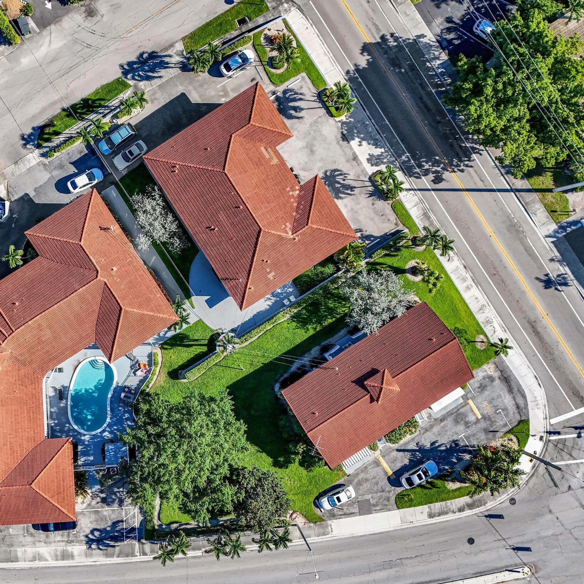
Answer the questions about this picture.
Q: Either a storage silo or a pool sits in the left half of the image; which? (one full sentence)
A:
There is a pool in the left half of the image.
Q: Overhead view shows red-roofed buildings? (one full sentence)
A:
Yes, you can see a red-roofed building in this photo.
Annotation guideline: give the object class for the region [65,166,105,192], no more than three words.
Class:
car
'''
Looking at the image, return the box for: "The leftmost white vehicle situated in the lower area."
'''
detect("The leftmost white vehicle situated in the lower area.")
[318,481,357,510]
